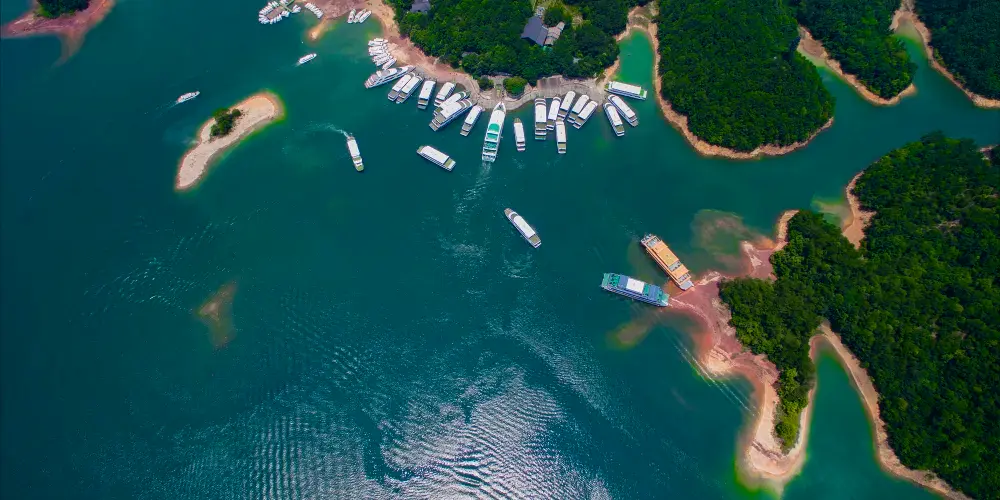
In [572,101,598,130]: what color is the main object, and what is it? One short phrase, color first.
white boat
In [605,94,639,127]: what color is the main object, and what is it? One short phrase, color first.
white boat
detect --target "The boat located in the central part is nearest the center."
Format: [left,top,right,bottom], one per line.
[505,208,542,248]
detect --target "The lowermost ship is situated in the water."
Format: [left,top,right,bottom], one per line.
[601,271,669,309]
